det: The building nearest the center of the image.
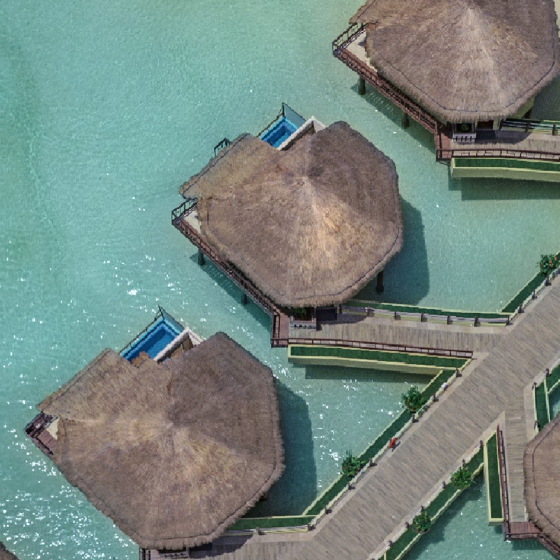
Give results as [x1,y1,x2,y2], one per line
[163,104,405,347]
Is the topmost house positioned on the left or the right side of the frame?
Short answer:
right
